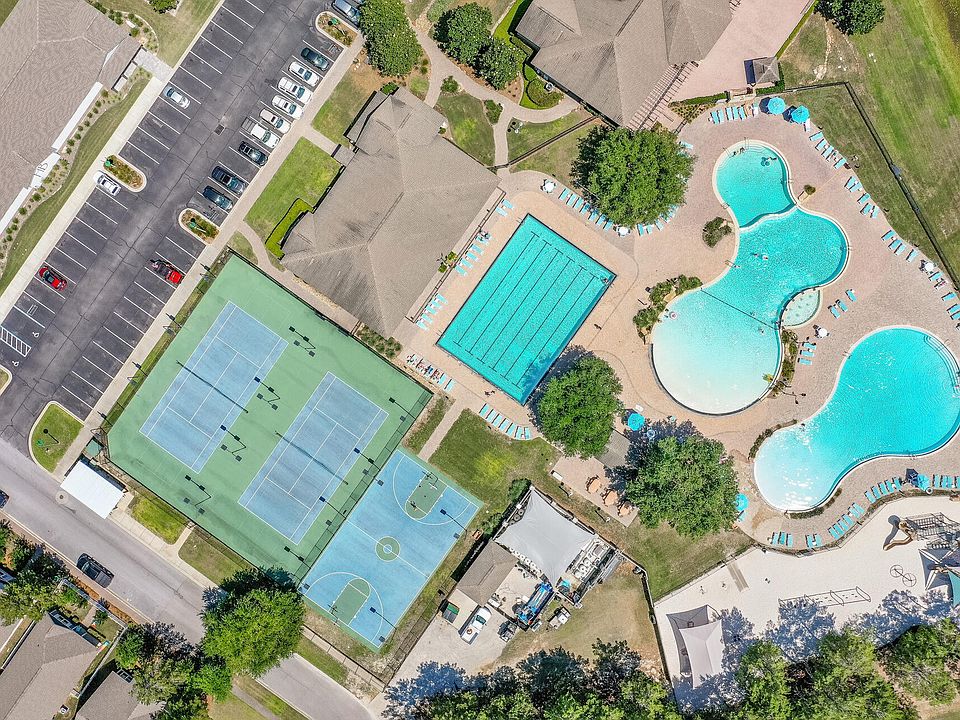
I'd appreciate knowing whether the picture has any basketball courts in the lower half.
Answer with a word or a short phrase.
Yes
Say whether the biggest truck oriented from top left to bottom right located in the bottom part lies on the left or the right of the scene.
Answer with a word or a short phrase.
left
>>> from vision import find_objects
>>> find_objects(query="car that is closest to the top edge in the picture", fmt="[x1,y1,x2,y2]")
[330,0,360,24]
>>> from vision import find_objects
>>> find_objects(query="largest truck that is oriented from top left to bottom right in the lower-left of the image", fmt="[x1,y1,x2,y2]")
[75,554,116,589]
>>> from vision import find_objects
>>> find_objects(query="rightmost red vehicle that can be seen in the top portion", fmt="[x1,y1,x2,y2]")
[150,257,185,285]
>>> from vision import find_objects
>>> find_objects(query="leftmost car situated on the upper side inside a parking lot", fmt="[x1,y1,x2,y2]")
[38,265,68,290]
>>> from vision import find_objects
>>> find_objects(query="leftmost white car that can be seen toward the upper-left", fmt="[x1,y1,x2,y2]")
[92,171,125,198]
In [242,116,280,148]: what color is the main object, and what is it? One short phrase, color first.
white truck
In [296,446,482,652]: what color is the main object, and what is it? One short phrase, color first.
blue basketball court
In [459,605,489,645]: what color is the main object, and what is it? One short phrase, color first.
white truck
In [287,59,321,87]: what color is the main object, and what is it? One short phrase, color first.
white car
